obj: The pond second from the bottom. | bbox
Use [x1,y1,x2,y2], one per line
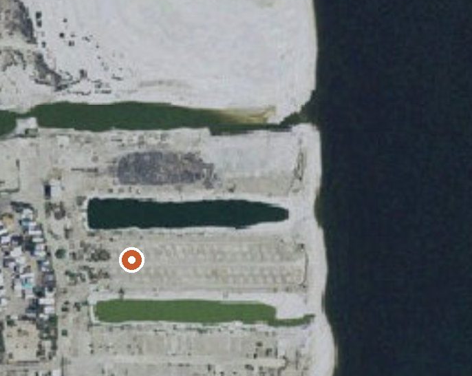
[87,198,289,229]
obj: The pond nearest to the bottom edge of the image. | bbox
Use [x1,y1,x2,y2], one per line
[96,298,315,326]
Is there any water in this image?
Yes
